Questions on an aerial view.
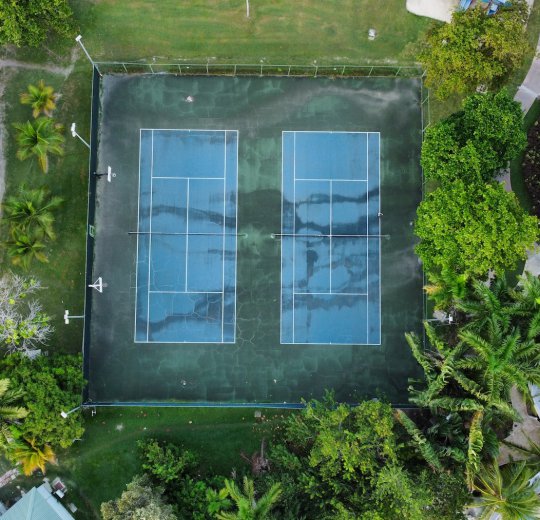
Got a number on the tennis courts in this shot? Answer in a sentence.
Looking from above, you can make out 2 tennis courts.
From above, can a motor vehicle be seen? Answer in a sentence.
No, no motor vehicle can be seen from above.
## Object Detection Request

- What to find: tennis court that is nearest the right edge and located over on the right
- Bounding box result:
[281,131,380,344]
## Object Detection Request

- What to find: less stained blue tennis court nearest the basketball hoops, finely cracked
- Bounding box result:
[134,129,238,343]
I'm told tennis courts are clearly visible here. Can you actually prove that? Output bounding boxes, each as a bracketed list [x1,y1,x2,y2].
[281,131,380,344]
[134,129,238,343]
